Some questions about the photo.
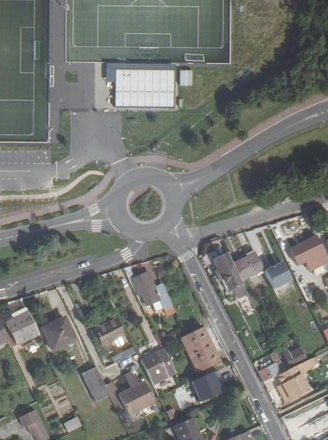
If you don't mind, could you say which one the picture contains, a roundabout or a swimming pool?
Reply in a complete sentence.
Looking from above, you can make out a roundabout.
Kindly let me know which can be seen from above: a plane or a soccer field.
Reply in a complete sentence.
This aerial view contains a soccer field.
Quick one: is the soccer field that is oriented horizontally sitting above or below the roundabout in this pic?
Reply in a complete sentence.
In the image, the soccer field that is oriented horizontally sits above the roundabout.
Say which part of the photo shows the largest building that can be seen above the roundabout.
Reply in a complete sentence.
Look in the top portion of the view to spot the largest building that can be seen above the roundabout.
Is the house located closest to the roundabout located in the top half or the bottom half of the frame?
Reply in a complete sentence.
The house located closest to the roundabout sits in the bottom half of the picture.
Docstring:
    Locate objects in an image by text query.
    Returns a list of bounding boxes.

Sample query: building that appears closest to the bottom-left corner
[19,409,50,440]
